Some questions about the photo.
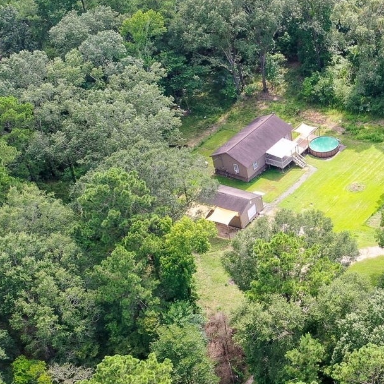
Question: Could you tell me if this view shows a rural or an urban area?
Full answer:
The land in this view is best described as rural.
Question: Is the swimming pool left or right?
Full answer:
It is on the right.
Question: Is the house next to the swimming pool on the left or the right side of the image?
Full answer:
The house next to the swimming pool sits on the right side.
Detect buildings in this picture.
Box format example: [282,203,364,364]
[210,114,308,183]
[191,180,263,226]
